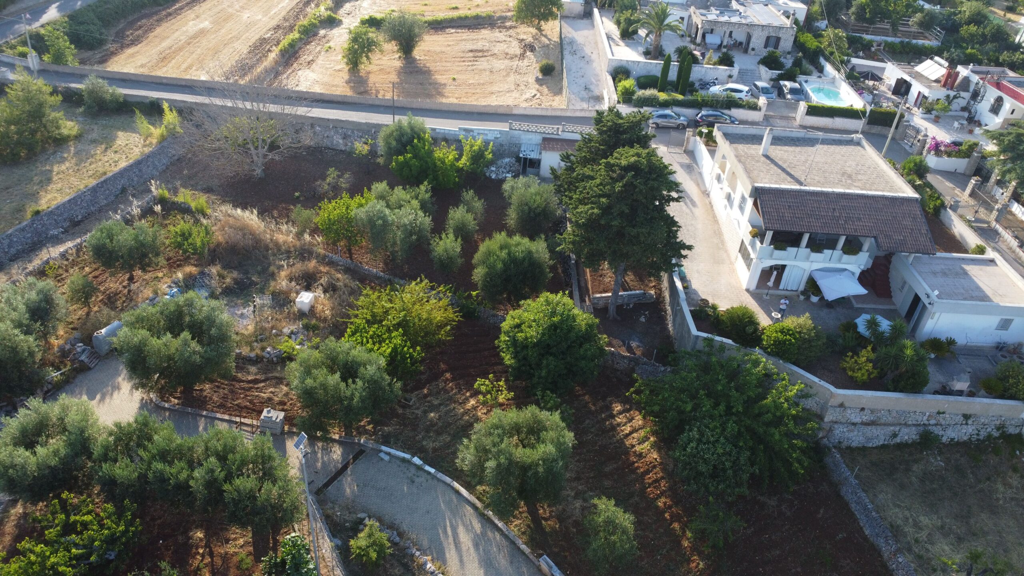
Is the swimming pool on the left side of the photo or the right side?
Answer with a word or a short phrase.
right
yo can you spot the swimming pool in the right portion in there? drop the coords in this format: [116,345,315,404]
[803,78,849,115]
